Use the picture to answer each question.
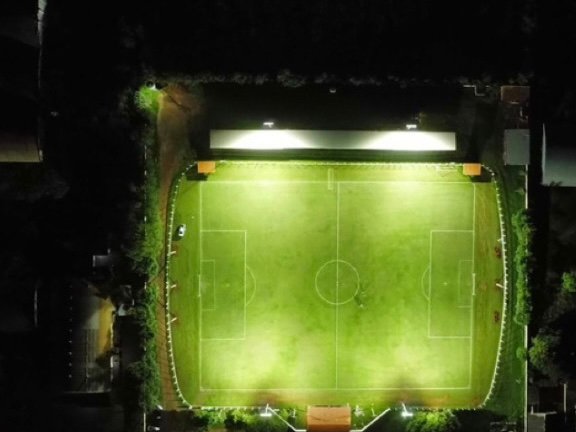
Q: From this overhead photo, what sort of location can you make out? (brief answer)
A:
sports ground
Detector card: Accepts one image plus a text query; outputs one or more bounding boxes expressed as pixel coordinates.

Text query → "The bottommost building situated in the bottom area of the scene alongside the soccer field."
[307,406,352,432]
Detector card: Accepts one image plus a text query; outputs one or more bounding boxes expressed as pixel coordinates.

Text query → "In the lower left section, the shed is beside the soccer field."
[69,282,114,393]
